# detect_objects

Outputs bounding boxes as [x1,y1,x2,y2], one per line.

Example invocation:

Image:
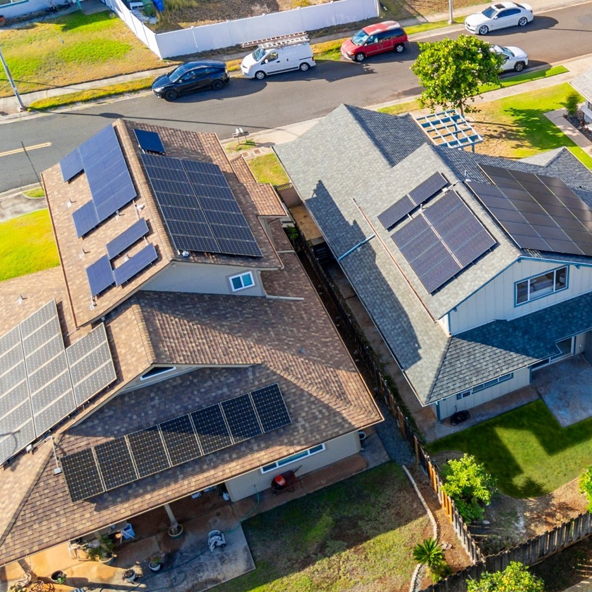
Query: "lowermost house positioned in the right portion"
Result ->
[267,104,592,422]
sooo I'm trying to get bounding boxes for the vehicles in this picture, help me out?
[456,41,531,73]
[241,33,318,80]
[338,19,411,63]
[464,1,537,35]
[150,59,232,103]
